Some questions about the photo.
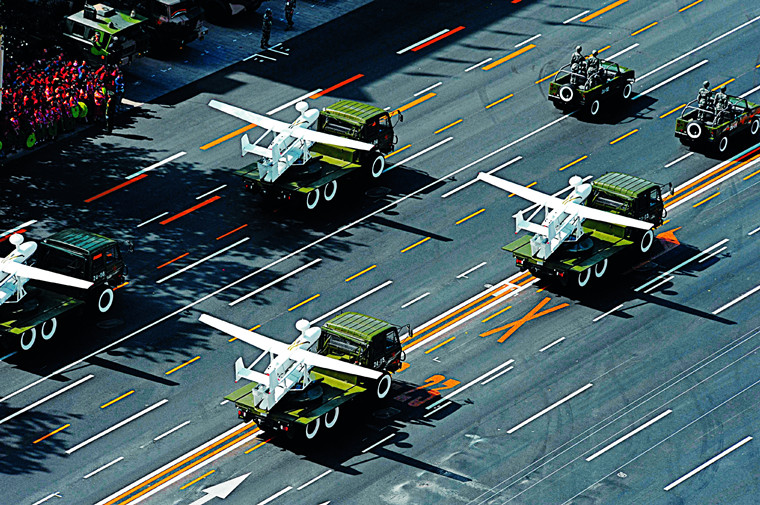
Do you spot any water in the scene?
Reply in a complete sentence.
No, water can't be seen anywhere here.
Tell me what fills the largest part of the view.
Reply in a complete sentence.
What you mostly see from above here is paved ground.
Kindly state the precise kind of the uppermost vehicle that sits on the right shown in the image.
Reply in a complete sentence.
I'd say the uppermost vehicle that sits on the right is an automobile.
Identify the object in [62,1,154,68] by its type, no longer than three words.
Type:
vehicle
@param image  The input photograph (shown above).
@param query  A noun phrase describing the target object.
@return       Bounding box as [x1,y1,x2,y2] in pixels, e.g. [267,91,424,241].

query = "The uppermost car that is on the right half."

[550,55,636,115]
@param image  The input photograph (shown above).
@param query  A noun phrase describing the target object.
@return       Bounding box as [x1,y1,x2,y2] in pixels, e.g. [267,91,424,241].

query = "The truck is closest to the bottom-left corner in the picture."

[0,224,132,349]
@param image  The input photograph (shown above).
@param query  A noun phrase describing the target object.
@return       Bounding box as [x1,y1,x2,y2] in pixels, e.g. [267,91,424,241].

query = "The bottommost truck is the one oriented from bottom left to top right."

[226,307,413,439]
